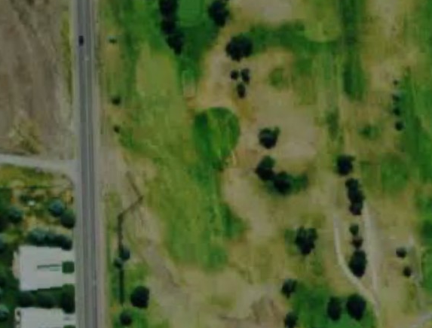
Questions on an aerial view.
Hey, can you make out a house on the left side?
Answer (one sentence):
Yes, the scene does show a house on the left side.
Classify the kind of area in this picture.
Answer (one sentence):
It's a golf course.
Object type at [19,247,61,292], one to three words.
house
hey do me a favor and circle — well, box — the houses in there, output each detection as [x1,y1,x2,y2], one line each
[21,309,65,328]
[19,247,61,292]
